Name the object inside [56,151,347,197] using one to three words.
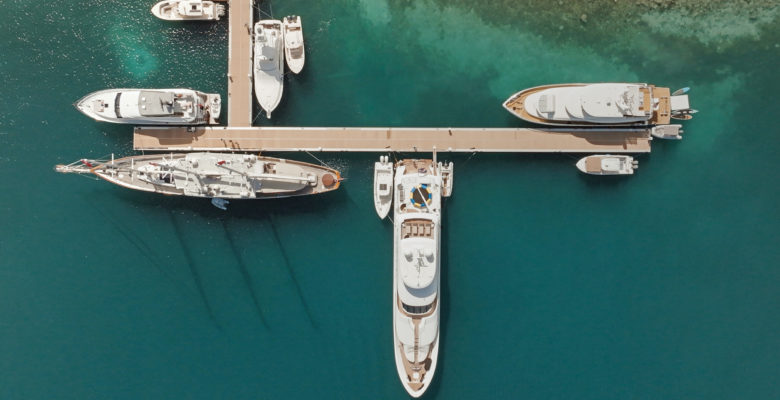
vessel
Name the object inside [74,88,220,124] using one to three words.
boat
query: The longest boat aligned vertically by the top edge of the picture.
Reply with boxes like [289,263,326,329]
[254,19,284,119]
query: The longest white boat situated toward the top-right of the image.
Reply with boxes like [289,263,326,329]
[502,84,672,127]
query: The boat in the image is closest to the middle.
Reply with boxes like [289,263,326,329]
[375,156,393,219]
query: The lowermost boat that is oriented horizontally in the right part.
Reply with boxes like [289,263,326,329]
[577,155,638,174]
